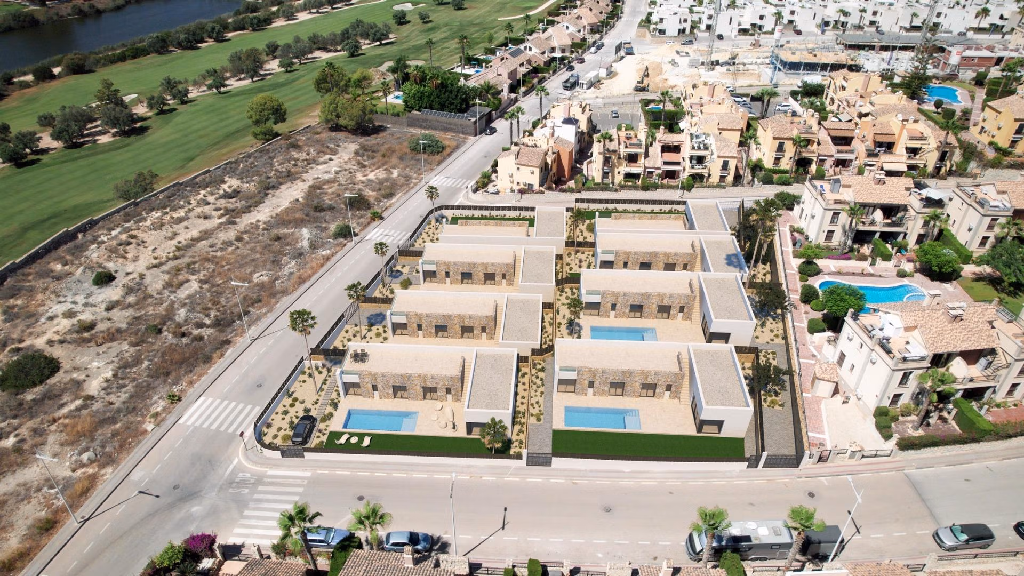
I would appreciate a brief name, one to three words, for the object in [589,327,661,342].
swimming pool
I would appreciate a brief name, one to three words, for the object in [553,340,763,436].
house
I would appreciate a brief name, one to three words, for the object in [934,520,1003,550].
car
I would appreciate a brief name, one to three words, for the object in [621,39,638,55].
vehicle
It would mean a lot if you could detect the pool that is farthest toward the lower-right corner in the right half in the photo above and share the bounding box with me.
[816,279,930,308]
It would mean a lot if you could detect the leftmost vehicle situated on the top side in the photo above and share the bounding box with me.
[481,121,498,134]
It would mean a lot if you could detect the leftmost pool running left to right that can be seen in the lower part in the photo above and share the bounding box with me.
[341,409,420,432]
